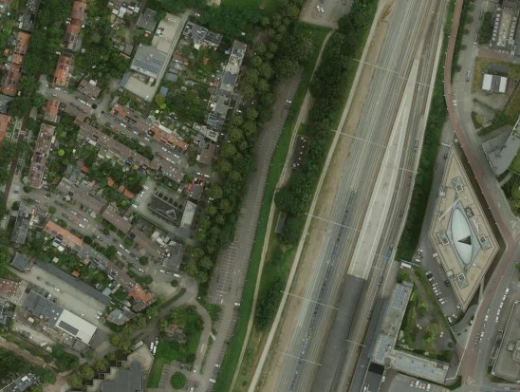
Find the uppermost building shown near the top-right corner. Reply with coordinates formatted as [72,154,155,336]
[490,4,520,55]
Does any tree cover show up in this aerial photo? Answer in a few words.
Yes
